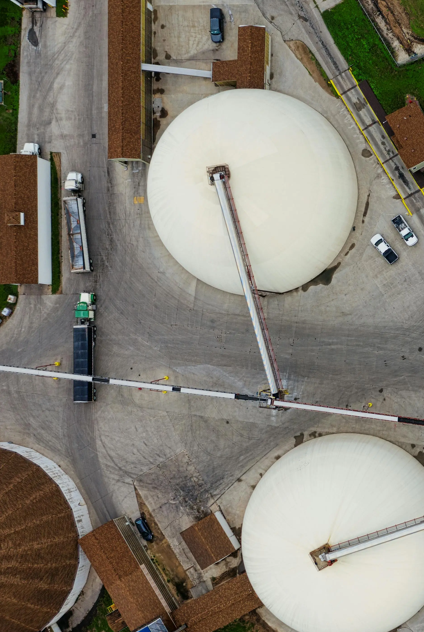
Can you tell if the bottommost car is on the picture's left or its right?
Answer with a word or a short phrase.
left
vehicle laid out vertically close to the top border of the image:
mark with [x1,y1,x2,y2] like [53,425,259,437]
[208,7,223,40]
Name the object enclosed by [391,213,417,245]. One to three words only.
truck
